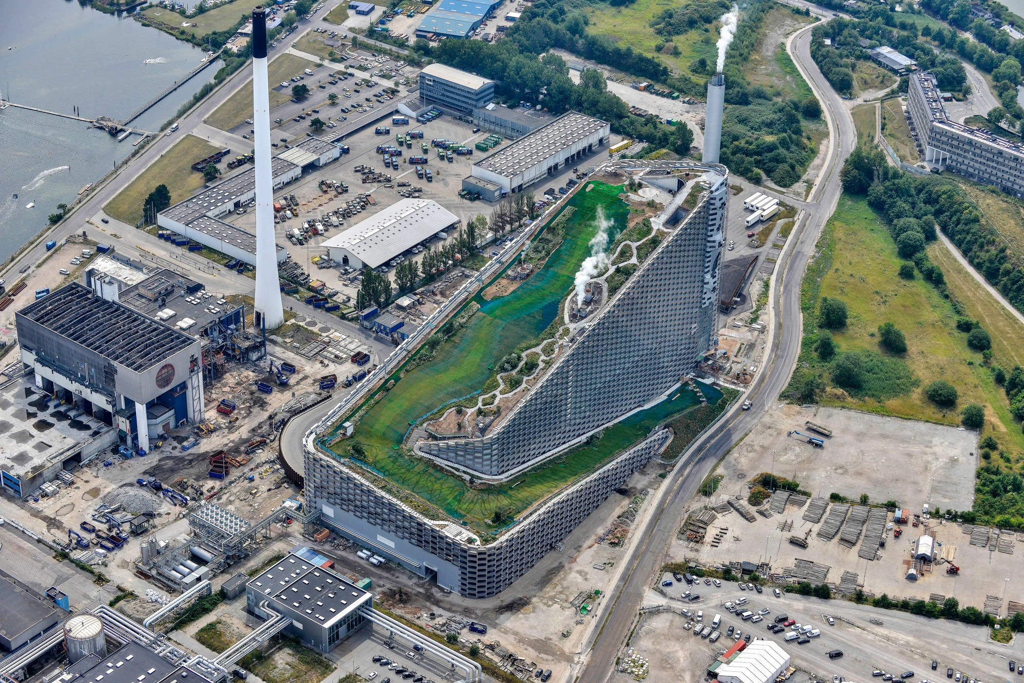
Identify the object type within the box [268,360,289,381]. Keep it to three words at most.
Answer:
work vehicle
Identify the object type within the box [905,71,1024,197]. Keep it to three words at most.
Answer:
building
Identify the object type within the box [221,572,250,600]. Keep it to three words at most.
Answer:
shed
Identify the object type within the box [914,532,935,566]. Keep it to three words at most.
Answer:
tent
